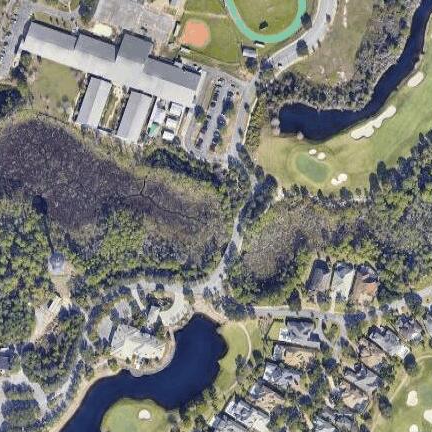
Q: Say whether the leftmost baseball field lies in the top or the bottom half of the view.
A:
top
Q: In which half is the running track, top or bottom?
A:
top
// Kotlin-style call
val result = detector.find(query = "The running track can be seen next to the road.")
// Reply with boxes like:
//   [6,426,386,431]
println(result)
[225,0,309,44]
